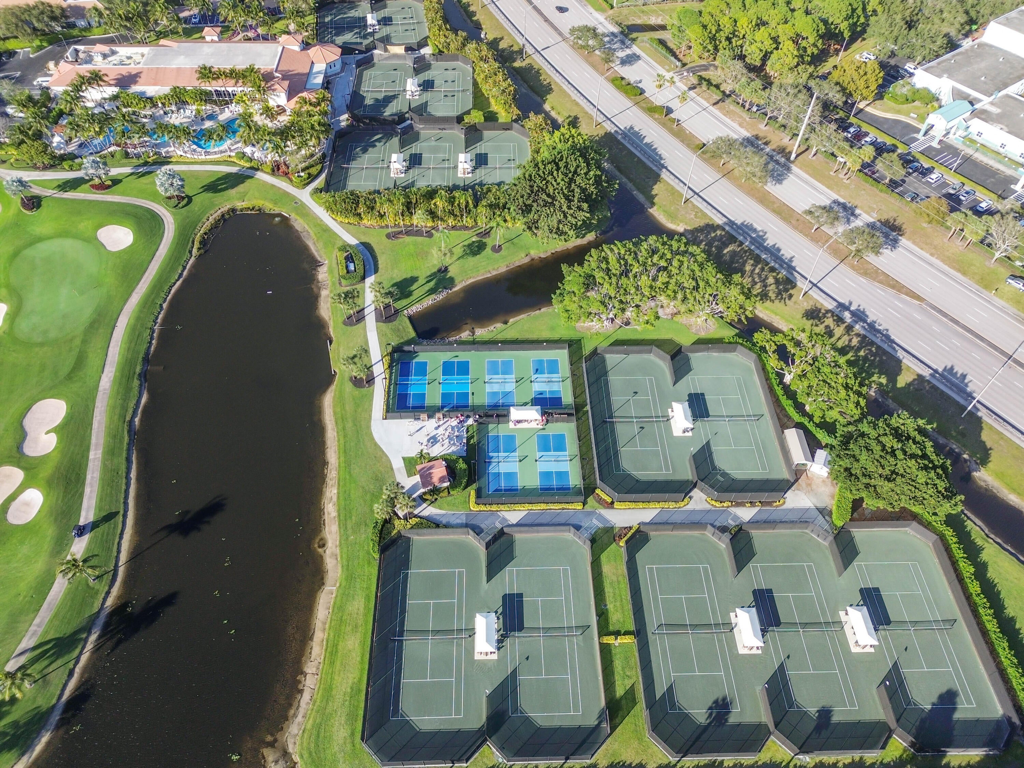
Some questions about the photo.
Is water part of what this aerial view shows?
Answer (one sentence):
Yes, water can be seen from above here.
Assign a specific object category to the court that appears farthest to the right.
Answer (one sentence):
Specifically, the court that appears farthest to the right is a tennis court.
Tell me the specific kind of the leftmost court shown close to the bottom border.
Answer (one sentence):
The leftmost court shown close to the bottom border in the image is a tennis court.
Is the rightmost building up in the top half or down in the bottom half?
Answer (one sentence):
The rightmost building is in the top half of the image.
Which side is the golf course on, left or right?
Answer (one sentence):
The golf course is on the left side of the image.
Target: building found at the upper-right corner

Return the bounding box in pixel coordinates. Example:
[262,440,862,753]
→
[911,7,1024,175]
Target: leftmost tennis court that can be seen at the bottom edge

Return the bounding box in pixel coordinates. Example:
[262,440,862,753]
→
[363,538,486,762]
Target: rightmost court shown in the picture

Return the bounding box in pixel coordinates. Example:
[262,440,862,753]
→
[837,530,1008,749]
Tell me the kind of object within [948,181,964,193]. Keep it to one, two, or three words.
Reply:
vehicle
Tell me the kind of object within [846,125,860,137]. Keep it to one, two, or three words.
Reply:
vehicle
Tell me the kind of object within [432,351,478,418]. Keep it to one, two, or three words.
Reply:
sports court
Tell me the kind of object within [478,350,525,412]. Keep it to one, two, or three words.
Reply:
sports court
